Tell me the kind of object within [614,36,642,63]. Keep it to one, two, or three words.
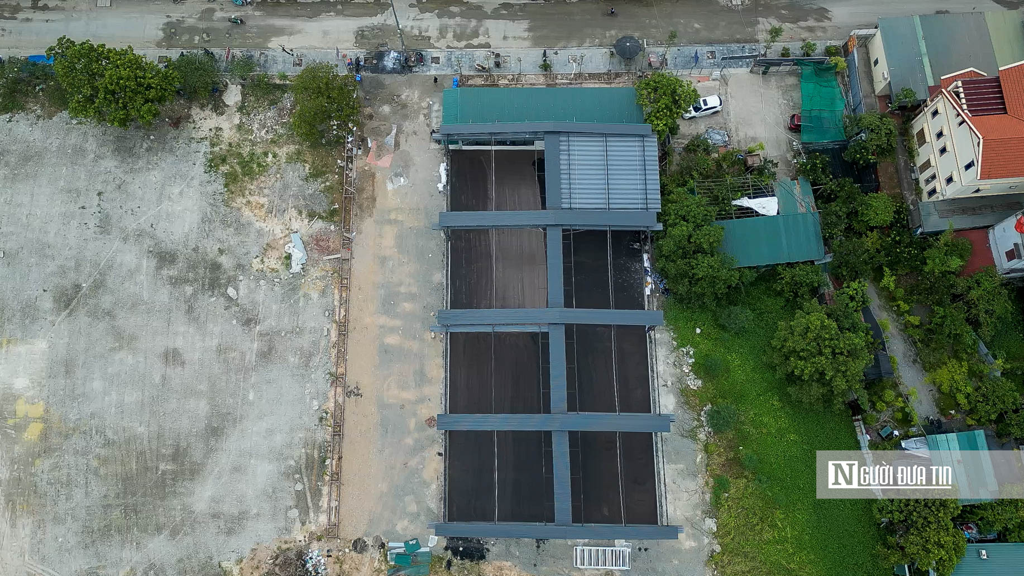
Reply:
umbrella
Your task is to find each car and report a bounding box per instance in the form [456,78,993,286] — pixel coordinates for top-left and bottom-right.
[684,93,727,124]
[784,112,801,133]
